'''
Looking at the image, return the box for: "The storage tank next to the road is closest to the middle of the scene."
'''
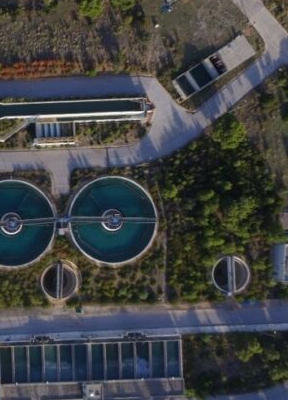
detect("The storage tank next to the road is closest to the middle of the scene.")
[65,174,158,267]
